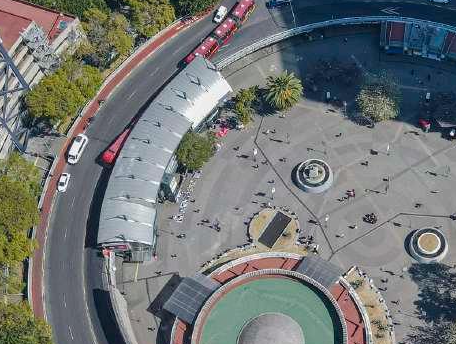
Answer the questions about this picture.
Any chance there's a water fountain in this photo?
Yes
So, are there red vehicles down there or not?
Yes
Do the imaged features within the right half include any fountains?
Yes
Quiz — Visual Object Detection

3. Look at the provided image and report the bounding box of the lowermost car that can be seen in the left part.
[57,173,71,193]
